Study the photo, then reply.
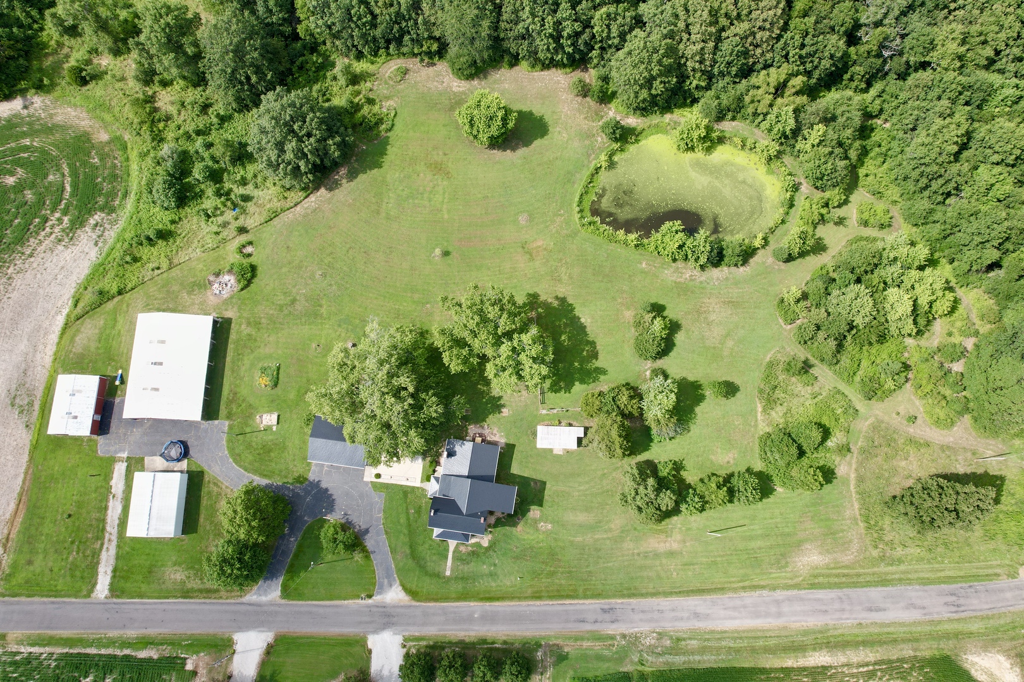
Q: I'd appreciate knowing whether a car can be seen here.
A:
No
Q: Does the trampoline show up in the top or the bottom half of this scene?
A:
bottom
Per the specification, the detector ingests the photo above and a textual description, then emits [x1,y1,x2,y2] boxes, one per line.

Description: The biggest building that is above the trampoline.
[123,312,222,422]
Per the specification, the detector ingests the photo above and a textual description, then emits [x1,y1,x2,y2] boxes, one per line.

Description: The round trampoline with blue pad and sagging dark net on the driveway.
[157,440,184,462]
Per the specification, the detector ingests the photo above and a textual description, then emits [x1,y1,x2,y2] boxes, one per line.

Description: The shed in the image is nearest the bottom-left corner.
[127,472,189,537]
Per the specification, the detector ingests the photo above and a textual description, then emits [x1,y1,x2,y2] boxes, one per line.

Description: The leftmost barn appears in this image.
[47,374,107,436]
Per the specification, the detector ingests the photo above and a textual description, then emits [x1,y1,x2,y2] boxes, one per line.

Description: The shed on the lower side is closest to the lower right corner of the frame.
[537,426,584,449]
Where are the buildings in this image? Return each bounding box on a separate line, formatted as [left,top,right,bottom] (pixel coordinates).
[428,435,517,543]
[308,415,375,469]
[127,472,189,537]
[47,374,107,436]
[123,312,222,422]
[537,426,584,449]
